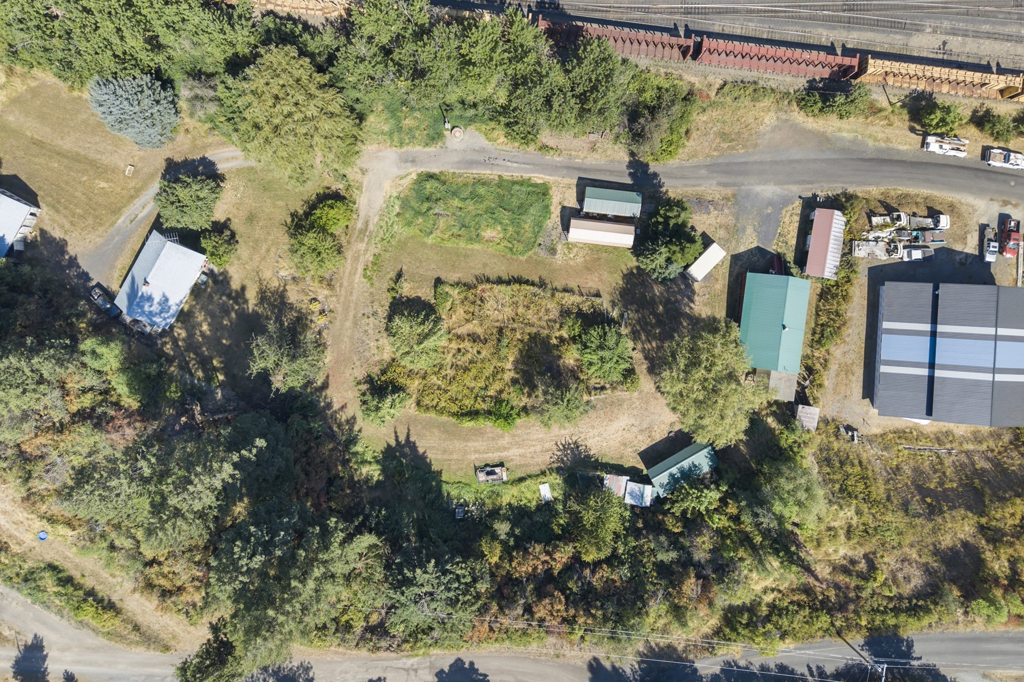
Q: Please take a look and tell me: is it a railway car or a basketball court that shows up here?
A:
railway car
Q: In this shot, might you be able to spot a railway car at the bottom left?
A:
No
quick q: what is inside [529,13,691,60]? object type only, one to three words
rail car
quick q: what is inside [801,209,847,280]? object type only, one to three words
shed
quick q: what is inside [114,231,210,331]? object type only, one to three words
house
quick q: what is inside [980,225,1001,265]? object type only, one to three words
truck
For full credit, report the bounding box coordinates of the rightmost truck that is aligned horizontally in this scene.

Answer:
[984,148,1024,172]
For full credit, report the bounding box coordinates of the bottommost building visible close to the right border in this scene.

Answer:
[869,284,1024,427]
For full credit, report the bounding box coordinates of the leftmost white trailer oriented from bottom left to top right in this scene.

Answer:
[683,243,725,282]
